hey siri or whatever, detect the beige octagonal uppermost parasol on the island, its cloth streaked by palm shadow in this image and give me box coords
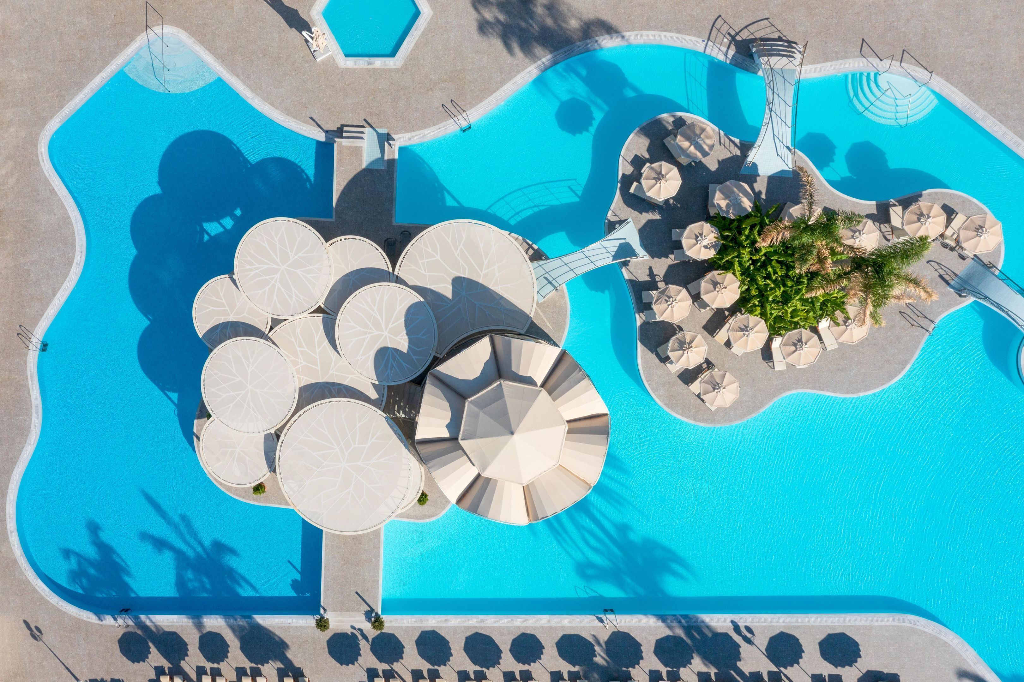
[673,121,718,163]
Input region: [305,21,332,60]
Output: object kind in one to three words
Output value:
umbrella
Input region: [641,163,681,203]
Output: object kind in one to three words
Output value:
umbrella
